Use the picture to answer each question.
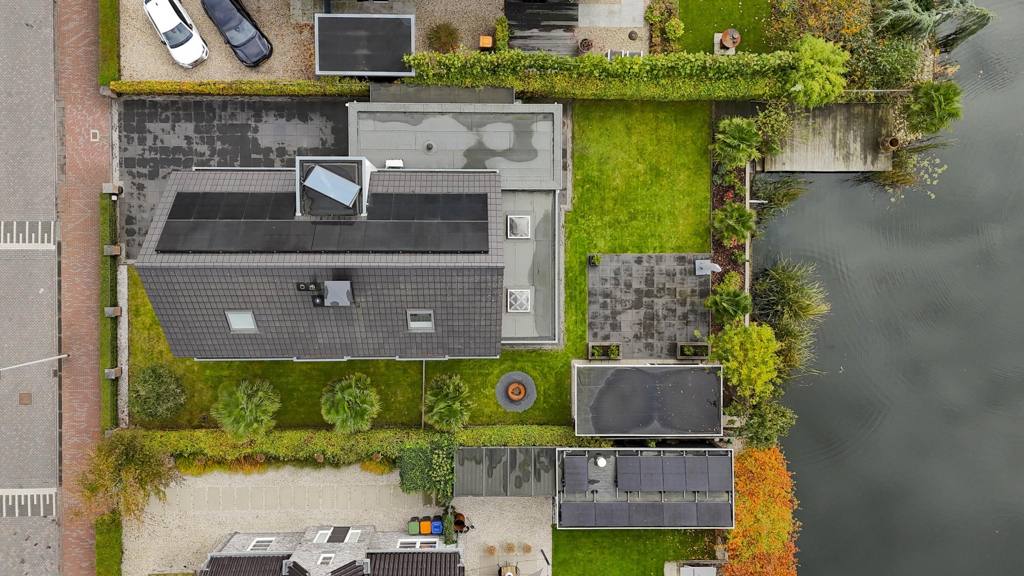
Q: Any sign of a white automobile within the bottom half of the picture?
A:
No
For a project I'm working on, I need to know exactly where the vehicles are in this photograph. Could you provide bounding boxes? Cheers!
[128,0,204,70]
[196,0,273,70]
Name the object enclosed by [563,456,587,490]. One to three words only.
solar panel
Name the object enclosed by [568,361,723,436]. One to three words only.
shed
